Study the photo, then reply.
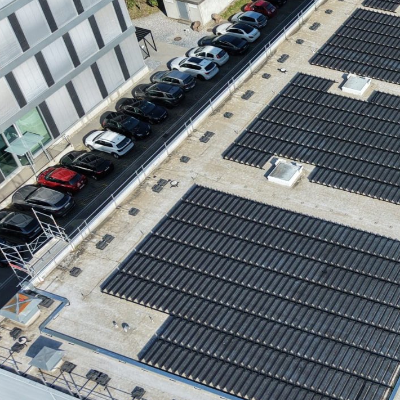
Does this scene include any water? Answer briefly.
No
